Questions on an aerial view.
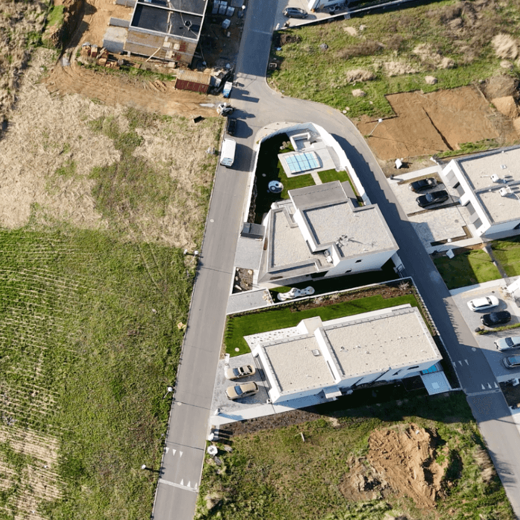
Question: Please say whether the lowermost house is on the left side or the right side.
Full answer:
It is on the right.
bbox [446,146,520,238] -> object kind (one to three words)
house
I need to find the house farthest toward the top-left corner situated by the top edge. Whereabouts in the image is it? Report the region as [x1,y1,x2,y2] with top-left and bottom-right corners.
[125,0,205,58]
